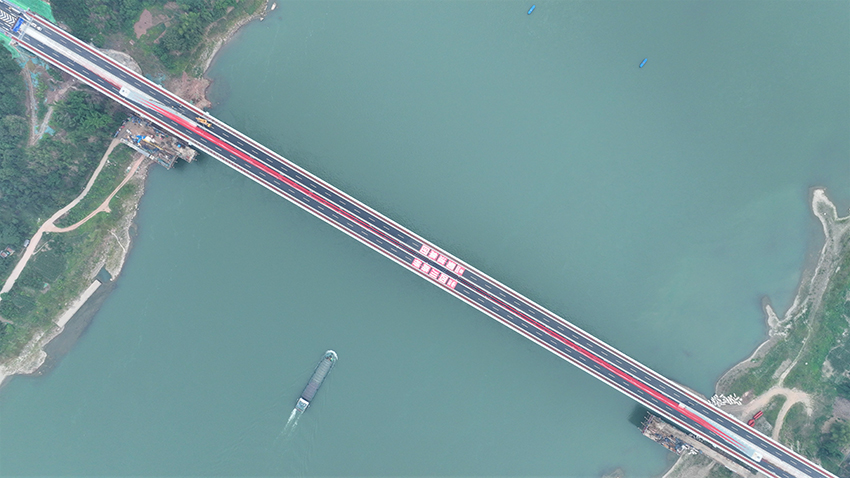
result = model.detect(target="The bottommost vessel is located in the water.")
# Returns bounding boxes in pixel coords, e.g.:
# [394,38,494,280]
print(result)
[294,350,335,414]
